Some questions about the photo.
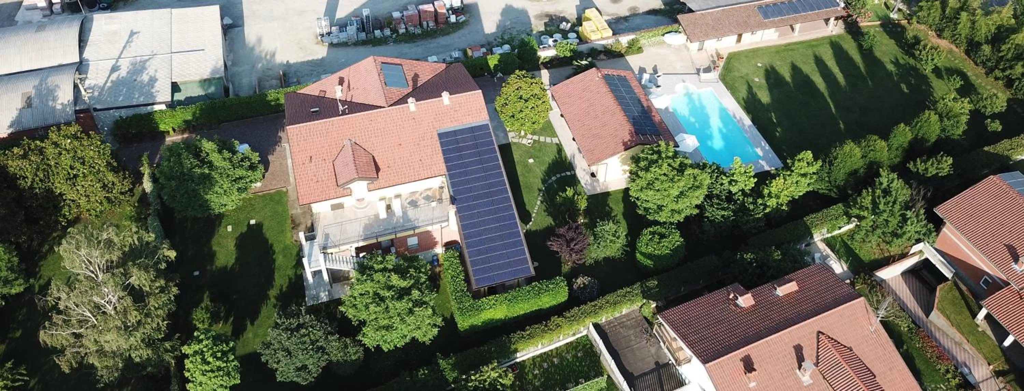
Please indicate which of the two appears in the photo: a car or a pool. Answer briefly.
pool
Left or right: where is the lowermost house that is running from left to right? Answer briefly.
right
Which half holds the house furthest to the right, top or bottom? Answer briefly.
bottom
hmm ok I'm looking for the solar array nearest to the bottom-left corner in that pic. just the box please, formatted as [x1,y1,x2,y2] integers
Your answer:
[435,120,540,290]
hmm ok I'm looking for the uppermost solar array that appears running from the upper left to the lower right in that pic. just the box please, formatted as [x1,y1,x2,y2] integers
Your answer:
[605,71,660,136]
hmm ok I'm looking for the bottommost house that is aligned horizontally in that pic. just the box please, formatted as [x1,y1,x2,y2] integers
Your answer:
[651,256,928,391]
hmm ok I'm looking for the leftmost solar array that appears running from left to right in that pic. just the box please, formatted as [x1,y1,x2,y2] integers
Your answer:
[757,0,841,21]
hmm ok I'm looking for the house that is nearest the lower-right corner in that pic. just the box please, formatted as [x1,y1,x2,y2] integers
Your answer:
[924,173,1024,357]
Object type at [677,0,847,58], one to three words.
building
